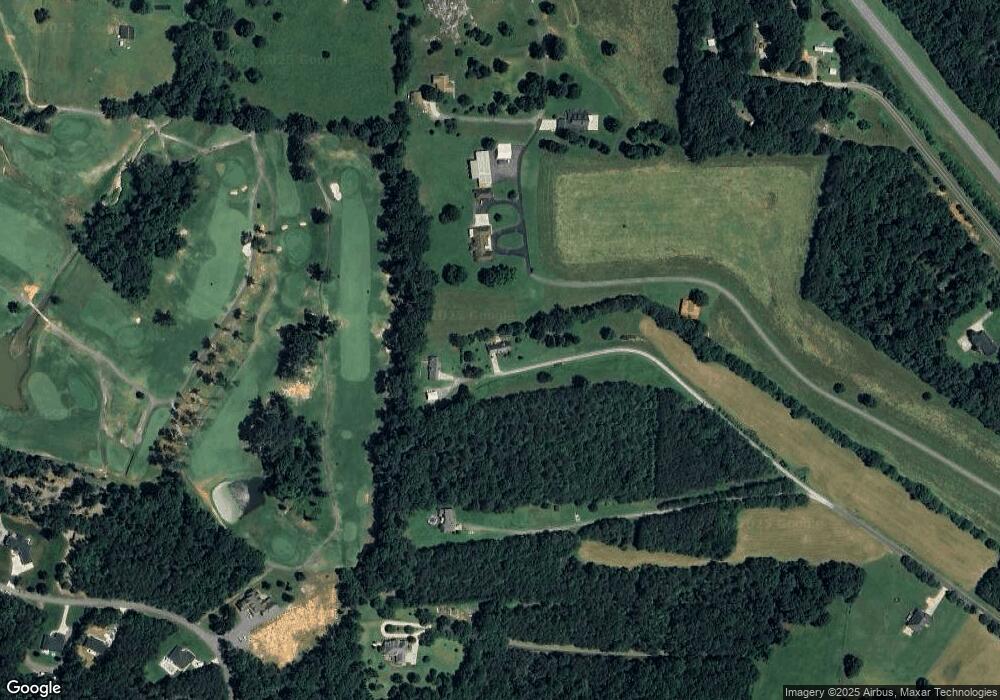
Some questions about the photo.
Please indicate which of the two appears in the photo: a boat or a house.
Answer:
house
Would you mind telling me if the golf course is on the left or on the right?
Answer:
left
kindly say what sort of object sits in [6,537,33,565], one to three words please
house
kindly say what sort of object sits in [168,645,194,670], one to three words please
house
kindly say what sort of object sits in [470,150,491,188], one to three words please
barn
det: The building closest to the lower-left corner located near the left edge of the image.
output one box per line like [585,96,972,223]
[41,634,64,650]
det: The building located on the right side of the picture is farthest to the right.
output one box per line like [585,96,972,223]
[971,329,997,354]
